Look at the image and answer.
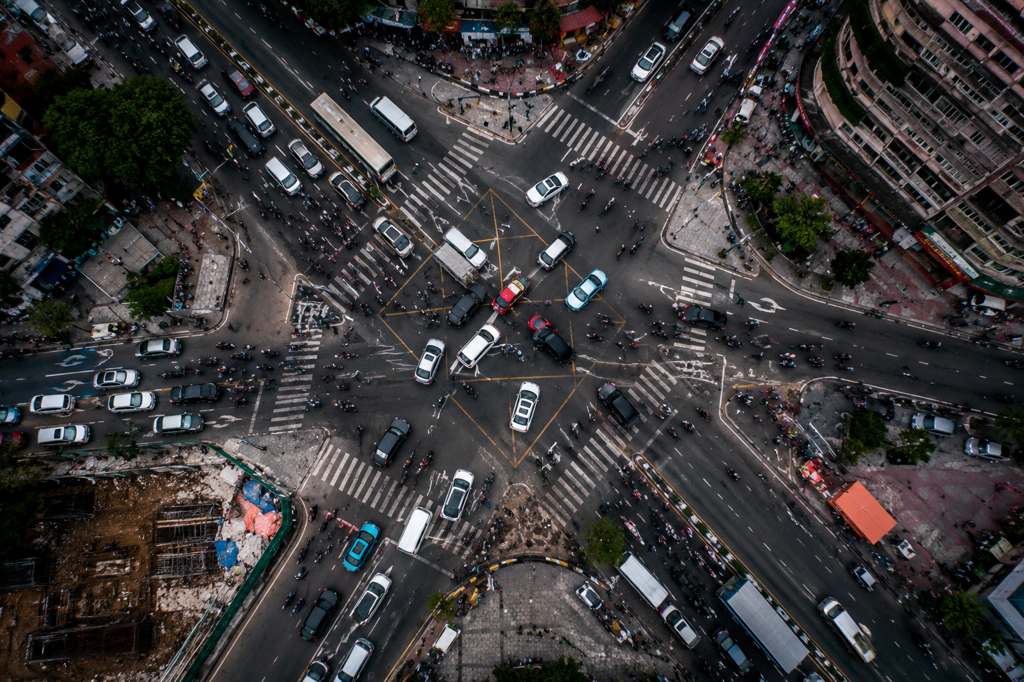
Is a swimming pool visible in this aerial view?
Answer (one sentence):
No, there appears to be no swimming pool in this shot.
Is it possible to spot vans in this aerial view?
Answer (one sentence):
Yes, I can see a van in this picture.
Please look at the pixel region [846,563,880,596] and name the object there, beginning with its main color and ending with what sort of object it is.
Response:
black car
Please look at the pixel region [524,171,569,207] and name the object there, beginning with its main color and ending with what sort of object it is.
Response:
white car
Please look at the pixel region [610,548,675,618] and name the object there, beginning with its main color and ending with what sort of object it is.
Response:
white truck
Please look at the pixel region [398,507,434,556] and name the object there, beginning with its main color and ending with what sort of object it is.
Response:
white van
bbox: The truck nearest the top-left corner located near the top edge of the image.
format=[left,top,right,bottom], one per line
[10,0,58,31]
